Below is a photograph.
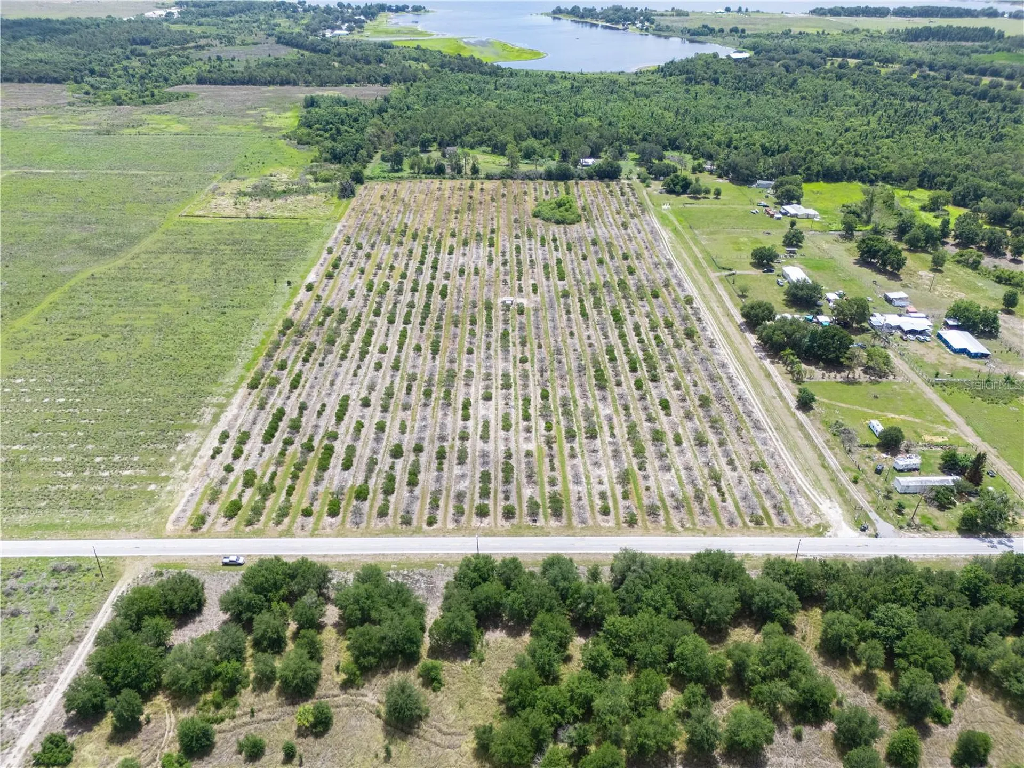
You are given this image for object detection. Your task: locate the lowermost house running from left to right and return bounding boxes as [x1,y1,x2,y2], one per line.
[893,476,957,493]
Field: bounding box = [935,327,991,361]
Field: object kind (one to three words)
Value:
house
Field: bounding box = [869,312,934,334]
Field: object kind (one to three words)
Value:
building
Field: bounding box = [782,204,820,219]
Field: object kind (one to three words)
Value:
house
